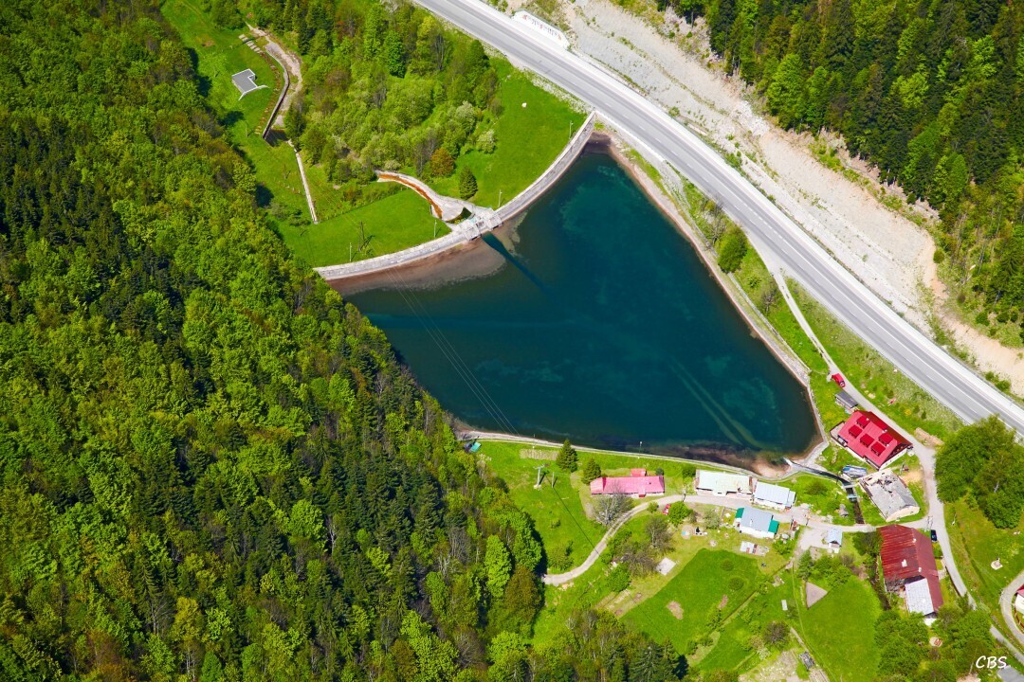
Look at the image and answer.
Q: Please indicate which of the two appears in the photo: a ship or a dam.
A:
dam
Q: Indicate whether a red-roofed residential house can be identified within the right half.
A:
Yes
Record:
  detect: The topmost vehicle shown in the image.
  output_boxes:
[833,370,847,386]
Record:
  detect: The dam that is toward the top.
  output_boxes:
[317,117,596,284]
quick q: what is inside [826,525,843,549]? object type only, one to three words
shed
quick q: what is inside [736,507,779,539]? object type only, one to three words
house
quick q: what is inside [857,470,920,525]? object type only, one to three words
house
